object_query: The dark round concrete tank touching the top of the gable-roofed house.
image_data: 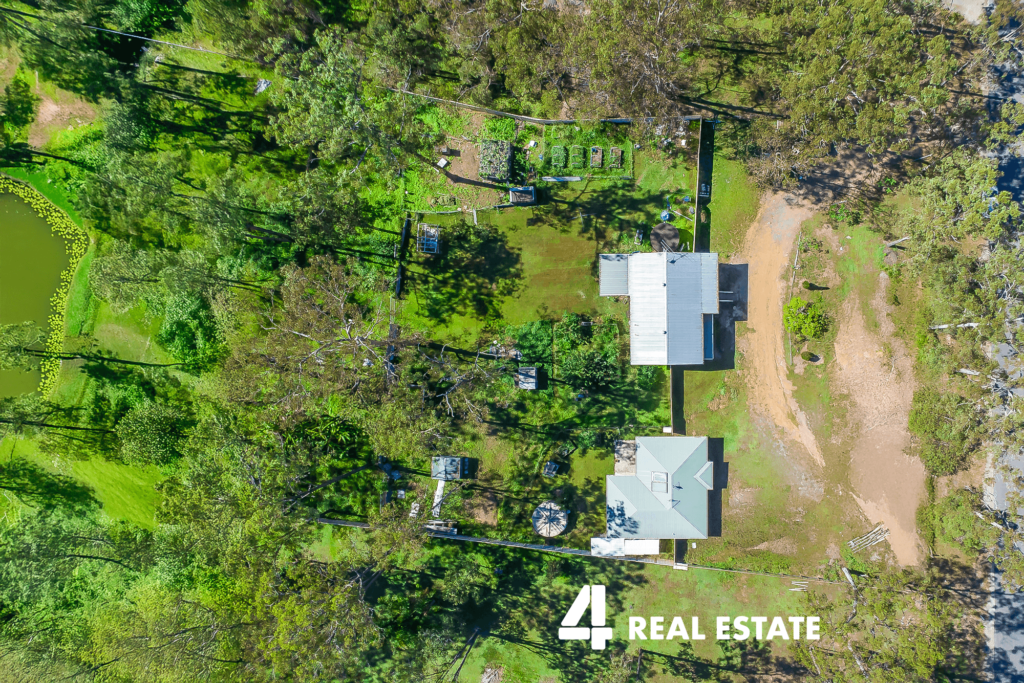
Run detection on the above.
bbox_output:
[647,221,680,252]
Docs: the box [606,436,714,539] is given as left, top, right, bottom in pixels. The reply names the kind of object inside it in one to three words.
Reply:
house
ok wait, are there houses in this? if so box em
[606,436,714,539]
[597,247,728,365]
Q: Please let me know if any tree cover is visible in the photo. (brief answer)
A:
Yes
